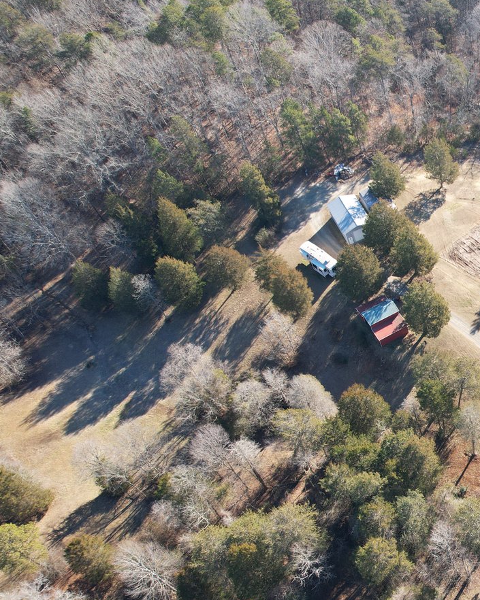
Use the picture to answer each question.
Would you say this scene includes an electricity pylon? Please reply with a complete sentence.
No, this view has no electricity pylon in it.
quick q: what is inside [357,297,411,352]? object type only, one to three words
barn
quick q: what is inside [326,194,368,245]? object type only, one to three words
shed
